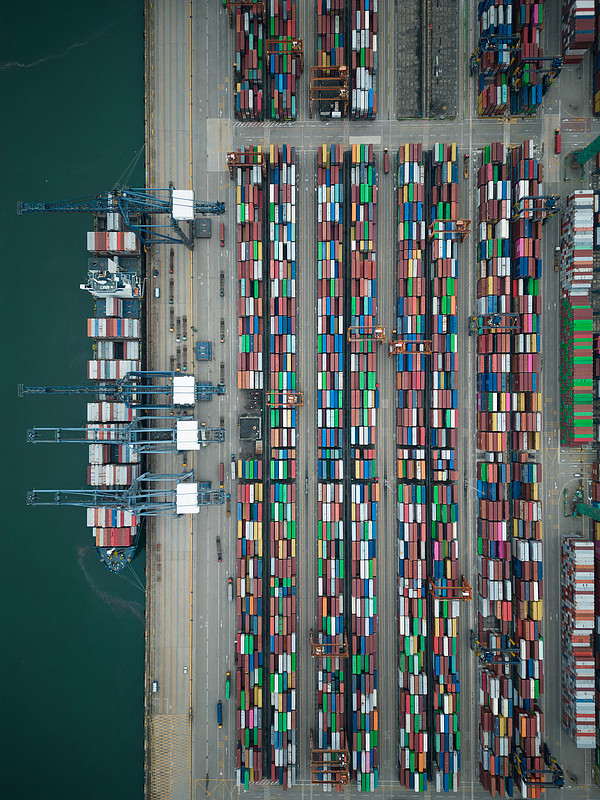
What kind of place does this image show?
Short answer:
port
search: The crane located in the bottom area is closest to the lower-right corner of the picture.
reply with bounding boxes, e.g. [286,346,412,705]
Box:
[508,742,563,784]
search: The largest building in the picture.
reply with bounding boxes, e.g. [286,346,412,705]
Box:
[243,415,263,440]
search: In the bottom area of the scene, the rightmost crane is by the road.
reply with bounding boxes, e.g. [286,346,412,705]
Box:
[563,488,600,523]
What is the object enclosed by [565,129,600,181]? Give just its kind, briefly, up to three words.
crane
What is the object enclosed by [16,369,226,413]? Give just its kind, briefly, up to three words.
container crane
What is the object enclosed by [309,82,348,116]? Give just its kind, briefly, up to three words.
container crane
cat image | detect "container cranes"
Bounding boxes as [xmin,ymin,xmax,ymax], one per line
[470,629,520,663]
[27,409,225,455]
[426,573,473,599]
[509,196,560,227]
[16,187,226,252]
[310,627,349,657]
[344,327,388,347]
[226,0,266,30]
[508,742,563,784]
[309,82,348,116]
[264,390,305,409]
[27,462,225,516]
[508,57,562,97]
[470,35,520,77]
[309,64,348,92]
[16,369,226,413]
[469,313,519,337]
[383,341,432,359]
[226,152,266,181]
[264,40,305,75]
[310,762,349,784]
[310,729,349,764]
[426,220,473,245]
